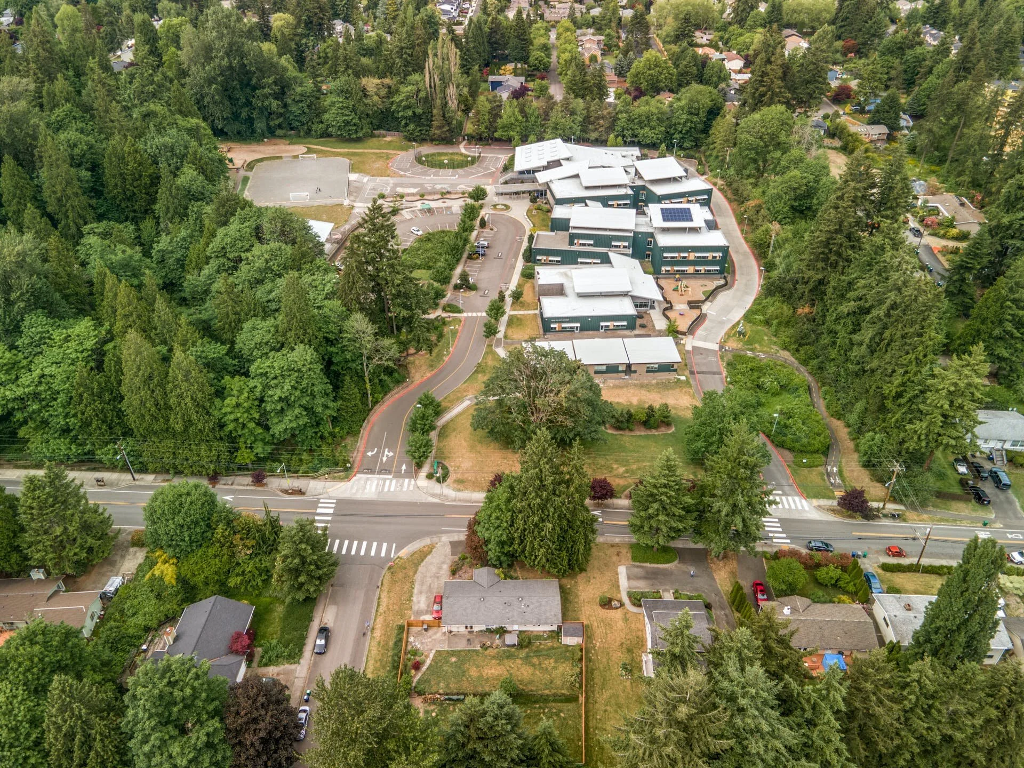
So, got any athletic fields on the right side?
No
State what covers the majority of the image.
trees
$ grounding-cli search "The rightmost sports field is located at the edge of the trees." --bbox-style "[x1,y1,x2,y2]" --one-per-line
[244,157,349,203]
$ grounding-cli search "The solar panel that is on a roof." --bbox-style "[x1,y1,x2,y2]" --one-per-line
[660,207,694,221]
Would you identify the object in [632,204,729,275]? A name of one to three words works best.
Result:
building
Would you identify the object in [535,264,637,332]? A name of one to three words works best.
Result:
building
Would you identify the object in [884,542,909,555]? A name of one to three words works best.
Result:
vehicle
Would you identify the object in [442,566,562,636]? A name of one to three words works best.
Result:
house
